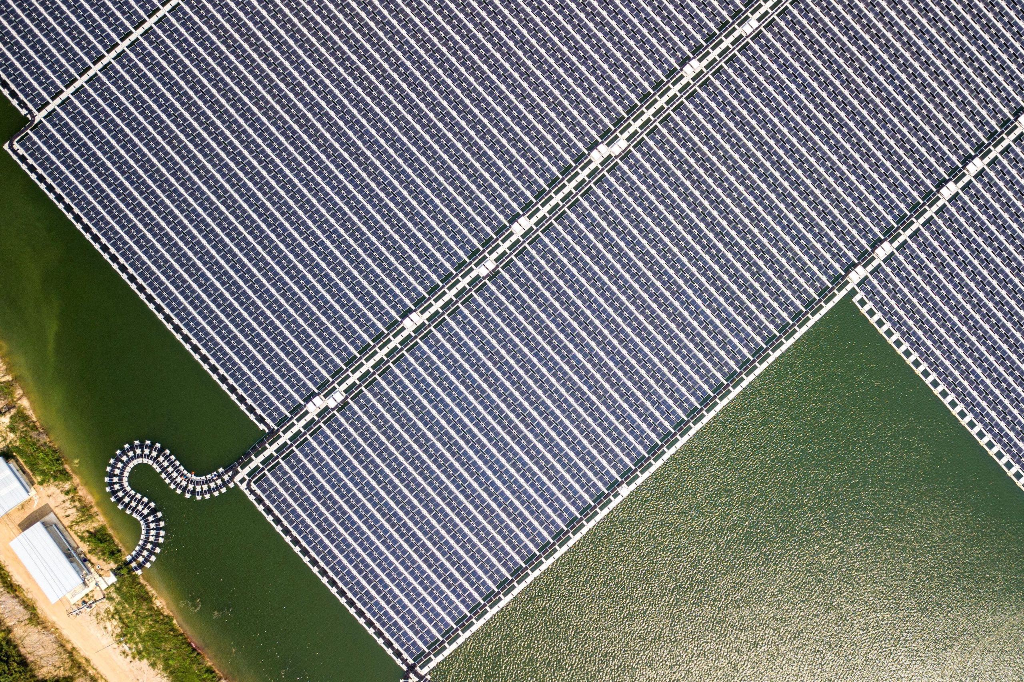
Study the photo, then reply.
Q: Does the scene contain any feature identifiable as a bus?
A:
No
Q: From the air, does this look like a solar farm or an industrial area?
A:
solar farm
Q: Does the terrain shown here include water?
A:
Yes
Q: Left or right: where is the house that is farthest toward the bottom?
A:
left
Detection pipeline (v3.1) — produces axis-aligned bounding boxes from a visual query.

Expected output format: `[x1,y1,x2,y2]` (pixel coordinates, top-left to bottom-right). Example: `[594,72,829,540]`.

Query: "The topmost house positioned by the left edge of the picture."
[0,453,47,517]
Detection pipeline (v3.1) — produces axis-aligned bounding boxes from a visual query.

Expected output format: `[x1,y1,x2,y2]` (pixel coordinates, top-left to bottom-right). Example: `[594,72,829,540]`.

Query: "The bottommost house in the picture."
[9,517,93,605]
